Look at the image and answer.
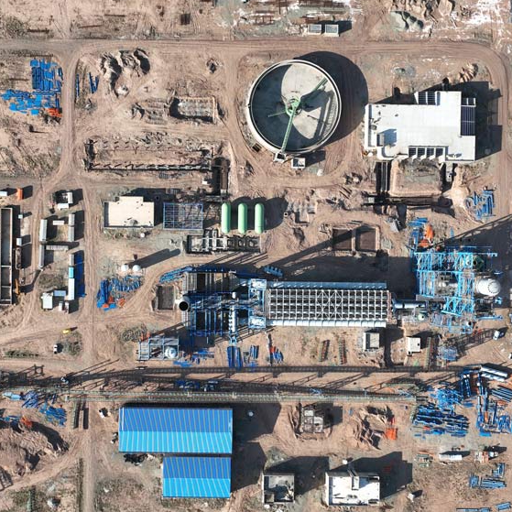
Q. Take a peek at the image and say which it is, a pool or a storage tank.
storage tank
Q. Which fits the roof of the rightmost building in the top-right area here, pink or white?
white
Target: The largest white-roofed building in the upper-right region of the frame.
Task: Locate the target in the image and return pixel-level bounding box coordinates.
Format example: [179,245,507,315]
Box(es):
[362,91,476,165]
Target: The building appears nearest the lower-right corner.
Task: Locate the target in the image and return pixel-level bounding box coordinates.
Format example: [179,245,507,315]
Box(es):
[324,469,379,506]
